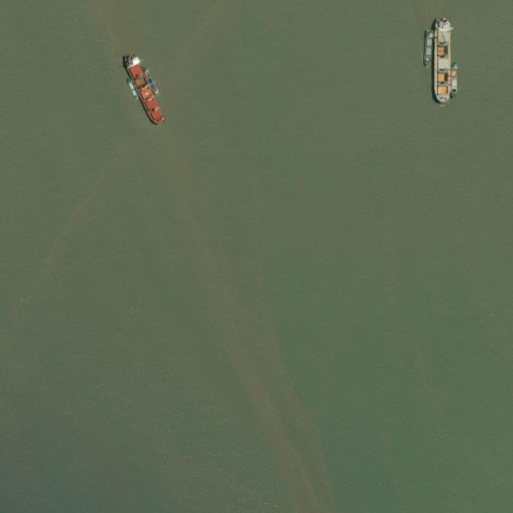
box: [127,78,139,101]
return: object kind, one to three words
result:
ship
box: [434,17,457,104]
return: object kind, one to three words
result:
ship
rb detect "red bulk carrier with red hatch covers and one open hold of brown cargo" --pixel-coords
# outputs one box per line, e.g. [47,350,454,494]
[126,54,162,124]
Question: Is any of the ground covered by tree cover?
No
